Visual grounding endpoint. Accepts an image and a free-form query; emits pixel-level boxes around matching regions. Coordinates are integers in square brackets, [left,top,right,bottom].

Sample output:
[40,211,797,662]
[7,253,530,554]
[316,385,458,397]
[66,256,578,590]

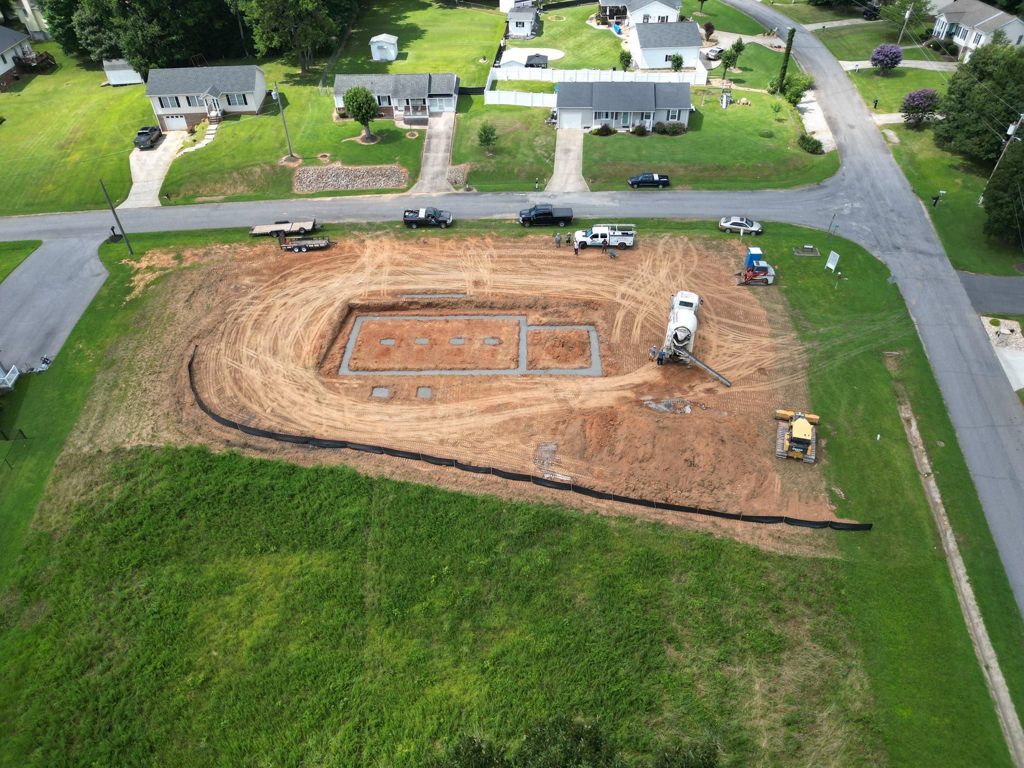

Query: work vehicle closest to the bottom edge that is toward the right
[769,408,820,462]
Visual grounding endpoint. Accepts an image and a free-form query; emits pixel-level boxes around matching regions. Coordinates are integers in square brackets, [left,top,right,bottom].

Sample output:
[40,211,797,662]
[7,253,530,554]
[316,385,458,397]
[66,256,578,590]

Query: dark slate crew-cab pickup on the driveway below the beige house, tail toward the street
[130,124,164,149]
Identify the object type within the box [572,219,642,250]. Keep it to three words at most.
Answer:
truck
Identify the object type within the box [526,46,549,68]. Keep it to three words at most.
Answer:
gazebo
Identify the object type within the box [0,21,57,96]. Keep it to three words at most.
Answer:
house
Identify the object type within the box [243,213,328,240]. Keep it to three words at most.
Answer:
trailer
